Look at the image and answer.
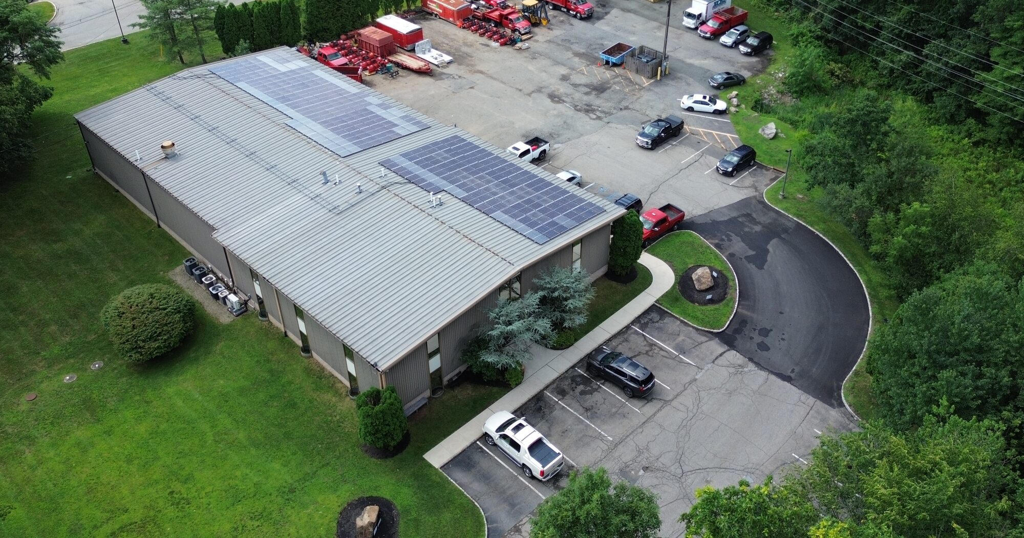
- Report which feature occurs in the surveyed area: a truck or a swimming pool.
truck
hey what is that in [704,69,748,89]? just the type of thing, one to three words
car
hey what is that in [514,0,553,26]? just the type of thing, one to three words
work vehicle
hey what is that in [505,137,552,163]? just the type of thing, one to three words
truck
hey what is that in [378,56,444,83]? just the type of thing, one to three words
trailer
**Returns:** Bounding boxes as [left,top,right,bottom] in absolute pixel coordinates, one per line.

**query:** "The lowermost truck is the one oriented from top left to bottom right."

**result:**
[480,408,569,488]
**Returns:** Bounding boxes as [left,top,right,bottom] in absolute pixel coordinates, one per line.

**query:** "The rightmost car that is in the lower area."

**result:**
[585,346,661,400]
